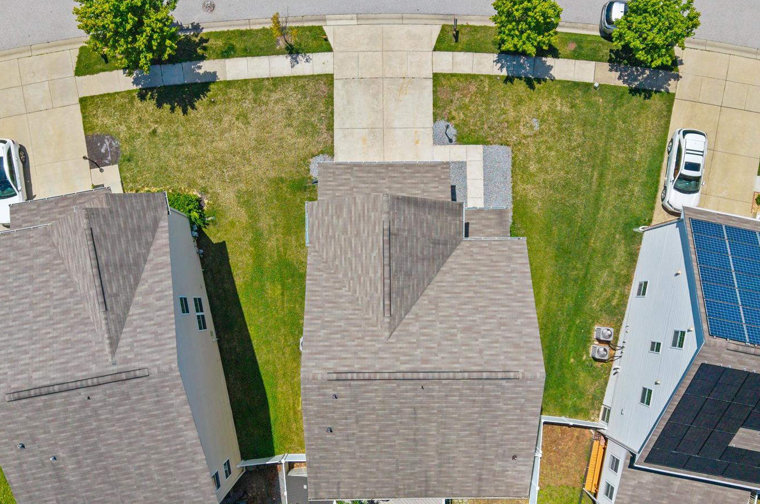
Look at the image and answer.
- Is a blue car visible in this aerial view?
No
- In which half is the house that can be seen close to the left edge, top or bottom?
bottom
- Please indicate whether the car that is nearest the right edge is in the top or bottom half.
top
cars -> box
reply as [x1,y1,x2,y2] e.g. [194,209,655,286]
[594,2,649,46]
[660,129,712,210]
[0,139,32,228]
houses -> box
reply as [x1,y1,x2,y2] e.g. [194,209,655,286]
[0,186,244,504]
[301,160,545,502]
[592,204,760,504]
